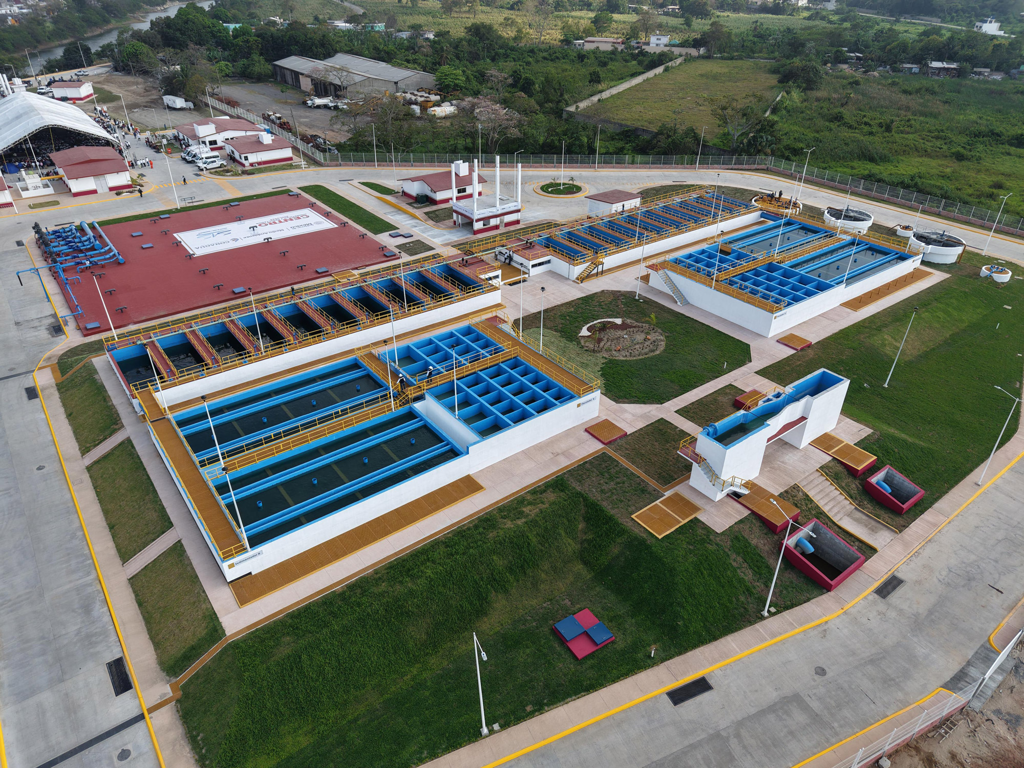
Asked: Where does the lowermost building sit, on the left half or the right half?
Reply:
left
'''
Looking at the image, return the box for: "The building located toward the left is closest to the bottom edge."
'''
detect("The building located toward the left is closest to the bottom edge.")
[99,249,502,418]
